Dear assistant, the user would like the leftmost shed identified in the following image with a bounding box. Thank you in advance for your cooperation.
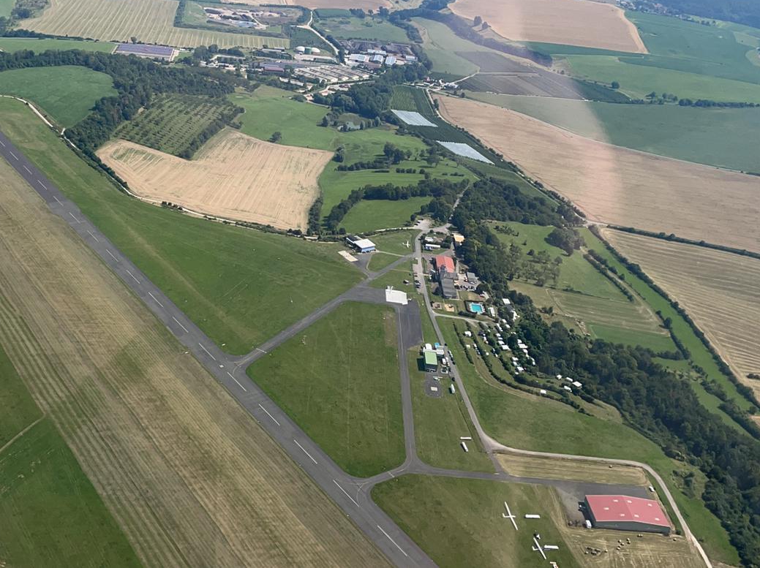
[114,42,173,62]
